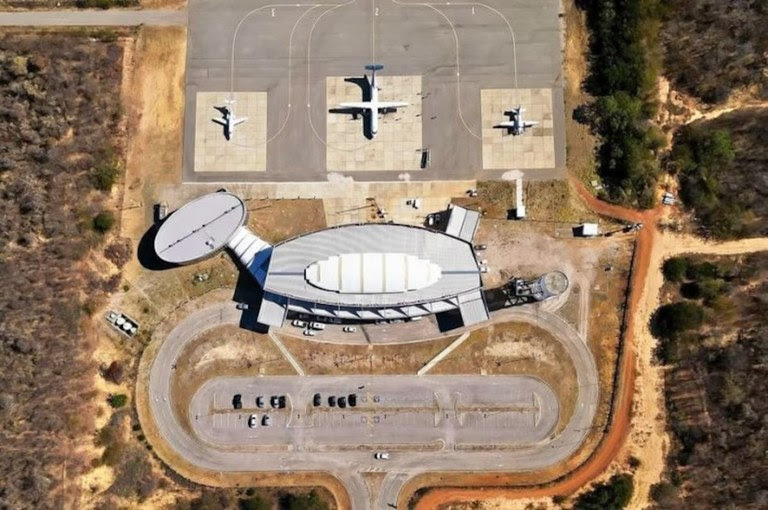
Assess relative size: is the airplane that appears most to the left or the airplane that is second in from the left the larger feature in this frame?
the airplane that is second in from the left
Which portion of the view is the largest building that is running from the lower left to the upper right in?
left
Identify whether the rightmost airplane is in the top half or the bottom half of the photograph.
top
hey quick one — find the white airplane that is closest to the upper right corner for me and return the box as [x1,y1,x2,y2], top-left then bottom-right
[501,103,540,134]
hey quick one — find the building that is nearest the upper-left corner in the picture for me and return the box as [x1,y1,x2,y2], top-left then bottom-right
[154,190,246,262]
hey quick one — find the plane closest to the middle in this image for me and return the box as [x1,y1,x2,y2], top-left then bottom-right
[339,67,410,139]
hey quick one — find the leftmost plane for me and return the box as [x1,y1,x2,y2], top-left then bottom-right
[212,100,248,139]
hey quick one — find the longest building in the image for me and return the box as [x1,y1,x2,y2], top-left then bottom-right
[225,206,490,327]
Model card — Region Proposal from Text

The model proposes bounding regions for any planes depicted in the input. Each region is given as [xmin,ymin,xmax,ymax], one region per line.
[339,67,410,139]
[212,100,248,139]
[501,103,540,134]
